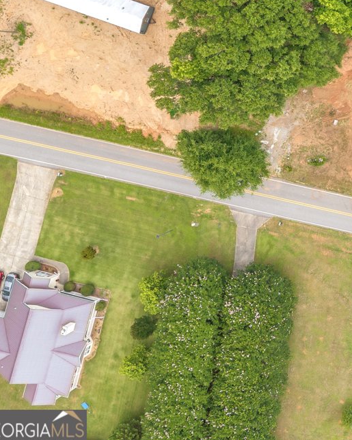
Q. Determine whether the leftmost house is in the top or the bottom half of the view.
bottom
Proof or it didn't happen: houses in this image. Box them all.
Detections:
[0,269,100,406]
[46,0,161,34]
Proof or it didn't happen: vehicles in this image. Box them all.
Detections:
[1,272,20,300]
[0,271,5,294]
